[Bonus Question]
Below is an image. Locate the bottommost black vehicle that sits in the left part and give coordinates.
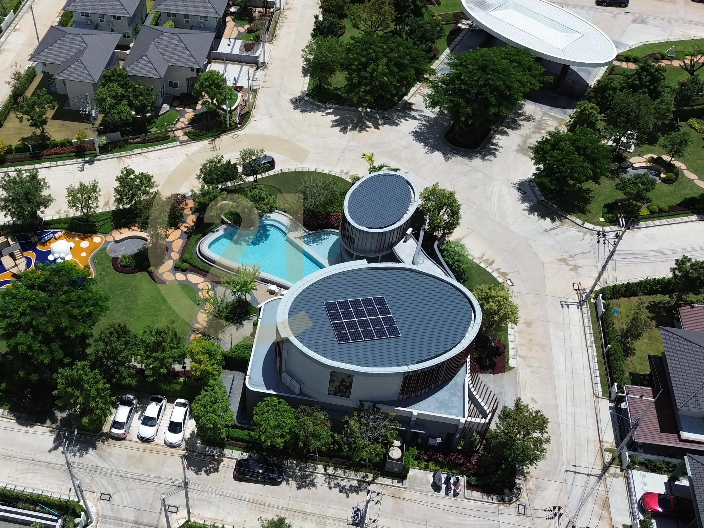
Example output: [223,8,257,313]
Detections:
[230,454,289,487]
